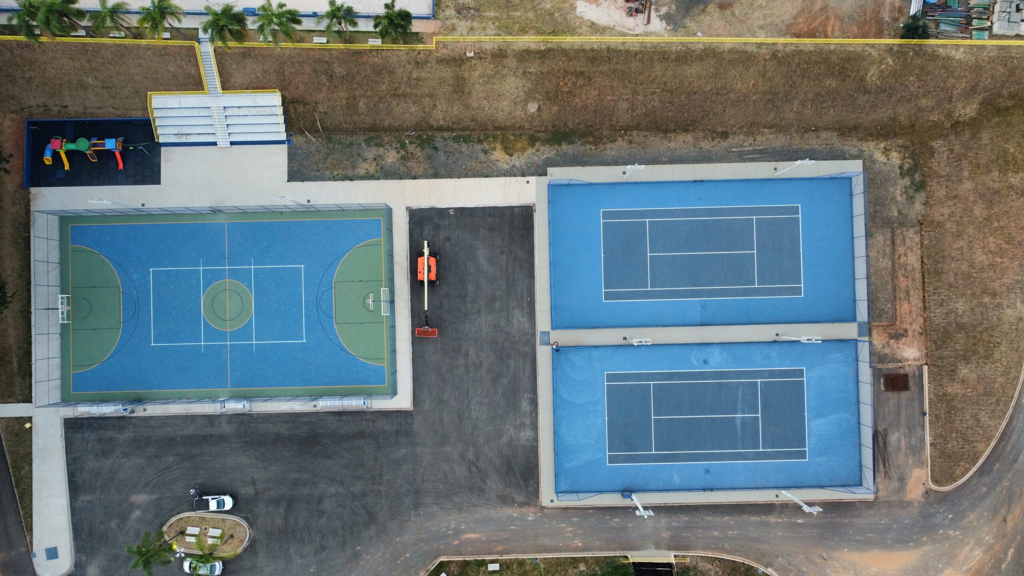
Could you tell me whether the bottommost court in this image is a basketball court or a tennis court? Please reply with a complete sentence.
The bottommost court in the image is a tennis court.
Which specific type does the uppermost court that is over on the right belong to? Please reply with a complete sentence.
It turns out the uppermost court that is over on the right is a tennis court.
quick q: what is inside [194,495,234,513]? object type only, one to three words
vehicle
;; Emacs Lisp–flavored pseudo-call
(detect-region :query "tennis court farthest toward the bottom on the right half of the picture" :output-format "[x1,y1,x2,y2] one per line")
[553,340,863,492]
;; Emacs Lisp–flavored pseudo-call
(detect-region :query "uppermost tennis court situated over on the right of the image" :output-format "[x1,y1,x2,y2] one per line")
[550,176,857,329]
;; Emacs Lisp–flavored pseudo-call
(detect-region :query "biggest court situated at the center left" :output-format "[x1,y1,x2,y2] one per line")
[61,209,395,401]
